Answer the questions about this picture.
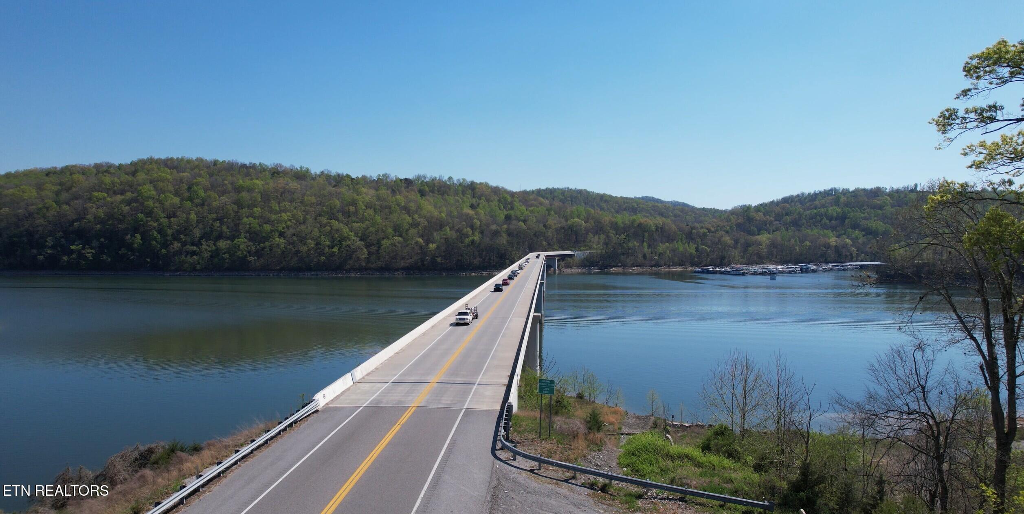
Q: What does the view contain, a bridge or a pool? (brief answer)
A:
bridge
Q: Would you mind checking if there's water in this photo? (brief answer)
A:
Yes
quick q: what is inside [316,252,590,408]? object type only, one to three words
bridge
